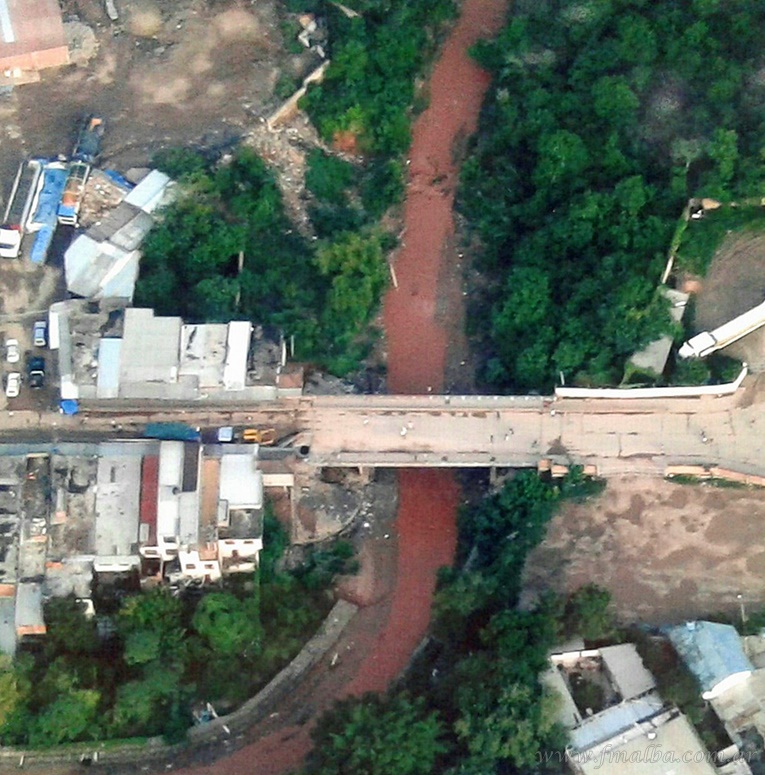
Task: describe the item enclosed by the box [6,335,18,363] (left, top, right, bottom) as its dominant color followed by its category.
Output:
white vehicle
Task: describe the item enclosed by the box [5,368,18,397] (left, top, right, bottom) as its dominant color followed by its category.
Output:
white vehicle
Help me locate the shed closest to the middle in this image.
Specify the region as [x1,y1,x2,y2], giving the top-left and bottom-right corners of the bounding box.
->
[278,363,304,397]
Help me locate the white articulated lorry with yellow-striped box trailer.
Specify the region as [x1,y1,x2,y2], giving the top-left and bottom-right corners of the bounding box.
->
[679,307,765,372]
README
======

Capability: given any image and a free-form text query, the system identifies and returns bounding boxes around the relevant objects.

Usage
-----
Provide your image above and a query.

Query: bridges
[300,394,560,480]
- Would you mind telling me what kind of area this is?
residential area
